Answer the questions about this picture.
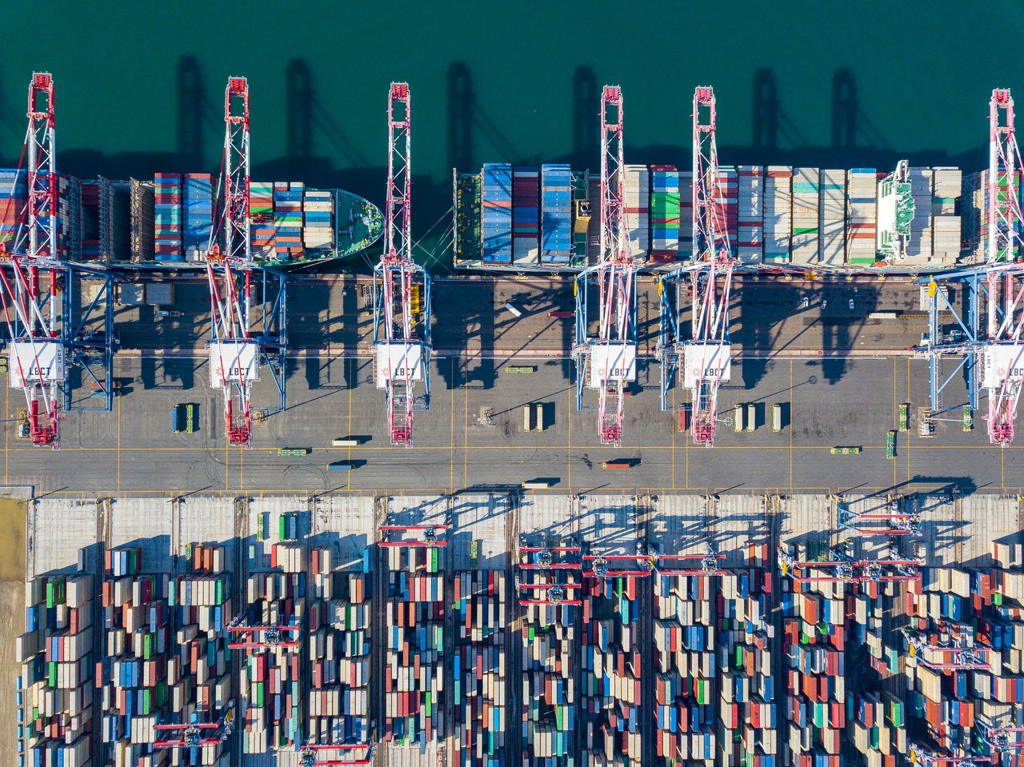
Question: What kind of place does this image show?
port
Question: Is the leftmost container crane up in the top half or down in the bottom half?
top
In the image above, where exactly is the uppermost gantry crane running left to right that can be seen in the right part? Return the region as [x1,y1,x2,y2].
[838,501,924,536]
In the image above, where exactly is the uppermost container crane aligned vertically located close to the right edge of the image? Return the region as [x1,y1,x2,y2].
[903,84,1024,450]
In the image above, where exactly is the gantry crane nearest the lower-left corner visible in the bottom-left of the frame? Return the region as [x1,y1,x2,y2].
[157,699,239,748]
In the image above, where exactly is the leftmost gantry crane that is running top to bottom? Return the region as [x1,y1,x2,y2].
[0,70,136,453]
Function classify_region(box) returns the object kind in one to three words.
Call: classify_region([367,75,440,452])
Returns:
container crane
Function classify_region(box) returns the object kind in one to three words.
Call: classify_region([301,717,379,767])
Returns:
container crane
